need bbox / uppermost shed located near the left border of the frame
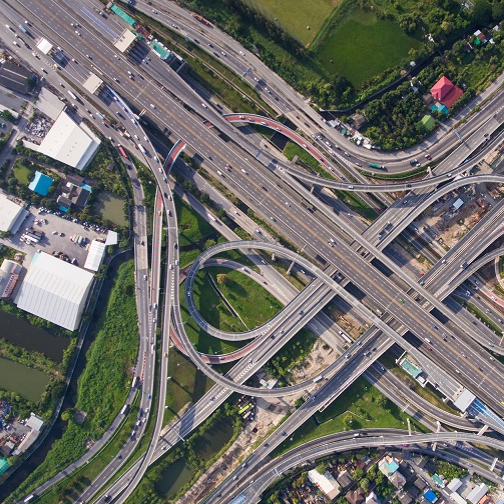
[1,65,42,95]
